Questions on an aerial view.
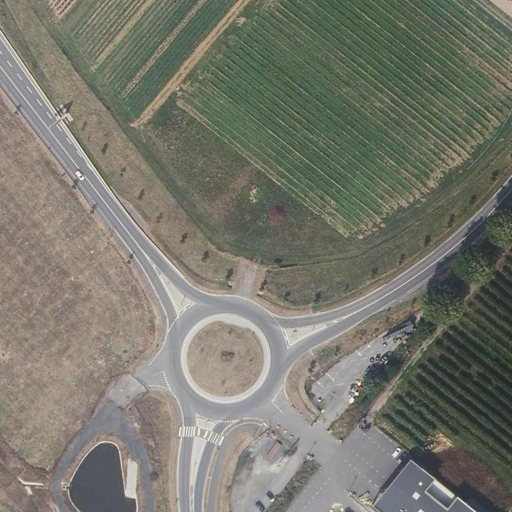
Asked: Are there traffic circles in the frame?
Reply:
Yes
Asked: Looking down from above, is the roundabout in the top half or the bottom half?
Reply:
bottom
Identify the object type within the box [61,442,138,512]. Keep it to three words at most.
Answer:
pond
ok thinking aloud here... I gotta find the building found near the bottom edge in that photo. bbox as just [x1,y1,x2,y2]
[373,459,475,512]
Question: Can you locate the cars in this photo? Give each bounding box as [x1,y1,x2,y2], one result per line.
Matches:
[398,452,408,463]
[266,490,274,501]
[256,500,265,512]
[362,422,370,432]
[76,169,85,180]
[392,448,401,459]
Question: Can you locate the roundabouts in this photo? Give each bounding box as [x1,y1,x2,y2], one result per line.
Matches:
[164,295,288,421]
